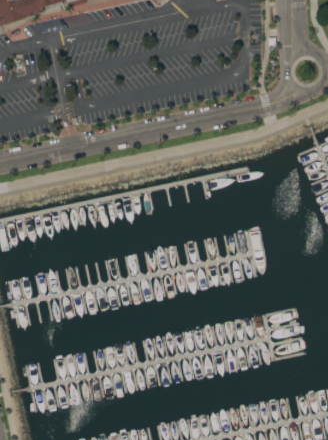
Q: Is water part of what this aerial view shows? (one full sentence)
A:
Yes, water shows up in the scene.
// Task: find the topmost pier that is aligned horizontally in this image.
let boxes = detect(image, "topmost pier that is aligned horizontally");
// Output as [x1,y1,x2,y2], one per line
[0,166,249,242]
